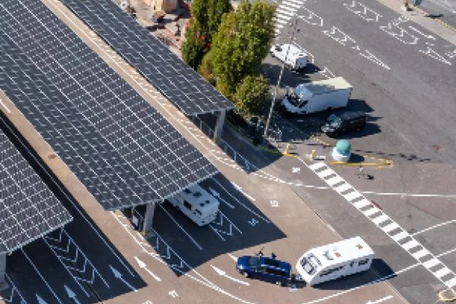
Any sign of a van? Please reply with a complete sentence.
Yes, there is a van in the image.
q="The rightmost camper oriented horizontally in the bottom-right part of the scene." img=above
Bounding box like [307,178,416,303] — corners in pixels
[298,231,380,276]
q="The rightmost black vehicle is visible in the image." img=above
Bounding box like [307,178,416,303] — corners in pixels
[326,113,367,138]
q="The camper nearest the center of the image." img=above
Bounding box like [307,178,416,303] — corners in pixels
[162,184,220,230]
